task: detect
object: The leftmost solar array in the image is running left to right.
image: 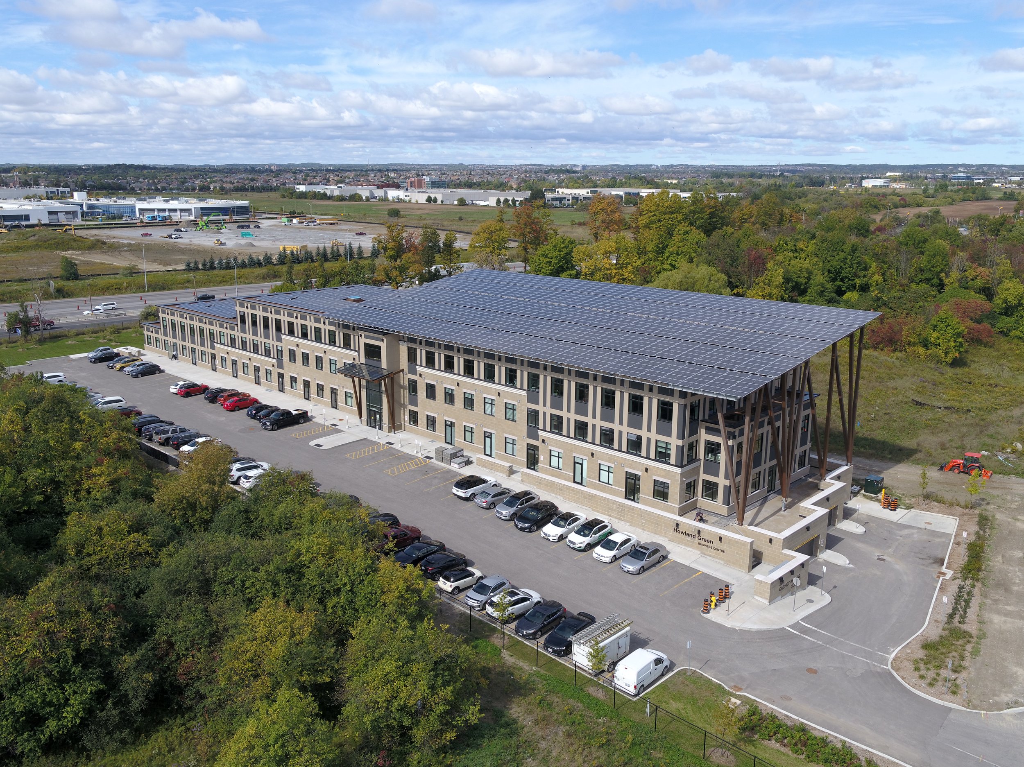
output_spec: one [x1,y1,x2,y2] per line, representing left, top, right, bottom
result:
[175,299,237,319]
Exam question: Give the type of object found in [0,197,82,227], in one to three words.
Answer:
building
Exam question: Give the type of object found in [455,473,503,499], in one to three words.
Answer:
car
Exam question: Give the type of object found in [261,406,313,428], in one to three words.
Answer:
truck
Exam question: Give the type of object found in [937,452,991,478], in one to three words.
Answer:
work vehicle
